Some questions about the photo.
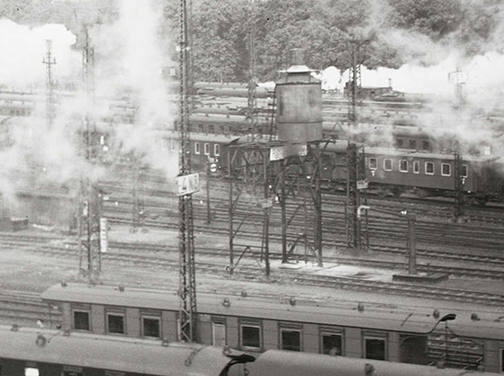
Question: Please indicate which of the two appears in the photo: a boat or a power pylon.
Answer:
power pylon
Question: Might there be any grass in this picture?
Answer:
No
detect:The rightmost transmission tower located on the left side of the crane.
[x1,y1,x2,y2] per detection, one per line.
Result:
[332,40,378,250]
